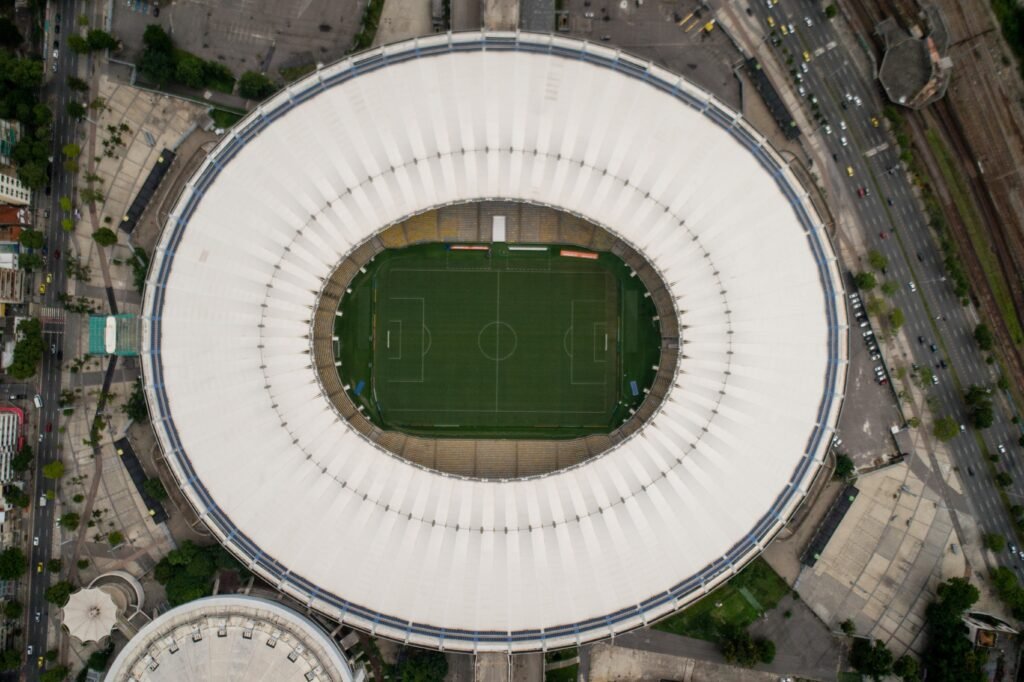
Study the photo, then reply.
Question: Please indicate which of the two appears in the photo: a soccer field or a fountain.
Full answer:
The one in the frame is a soccer field.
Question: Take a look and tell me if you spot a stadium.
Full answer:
Yes, looking at the shot, I can spot a stadium.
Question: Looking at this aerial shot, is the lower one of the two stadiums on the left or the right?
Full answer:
The lower one of the two stadiums is on the left side of the image.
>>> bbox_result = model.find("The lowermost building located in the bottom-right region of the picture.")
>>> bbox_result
[961,613,1019,648]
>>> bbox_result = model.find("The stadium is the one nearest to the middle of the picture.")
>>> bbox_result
[140,29,849,653]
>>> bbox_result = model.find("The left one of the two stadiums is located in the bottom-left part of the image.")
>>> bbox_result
[104,592,357,682]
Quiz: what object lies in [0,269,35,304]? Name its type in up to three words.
building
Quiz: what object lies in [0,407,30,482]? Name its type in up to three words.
building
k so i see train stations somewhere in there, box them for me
[876,0,953,110]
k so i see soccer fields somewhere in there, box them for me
[374,261,620,429]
